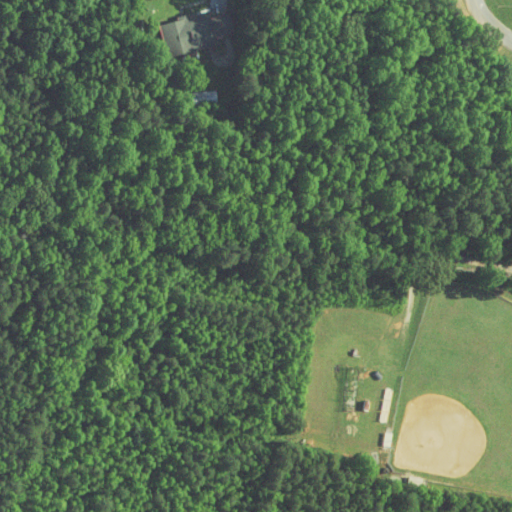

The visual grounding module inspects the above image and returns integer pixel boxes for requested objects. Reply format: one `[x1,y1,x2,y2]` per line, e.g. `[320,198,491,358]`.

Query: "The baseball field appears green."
[391,290,512,498]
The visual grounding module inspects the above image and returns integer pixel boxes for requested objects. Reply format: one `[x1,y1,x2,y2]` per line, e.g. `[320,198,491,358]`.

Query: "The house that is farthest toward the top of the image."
[160,14,200,58]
